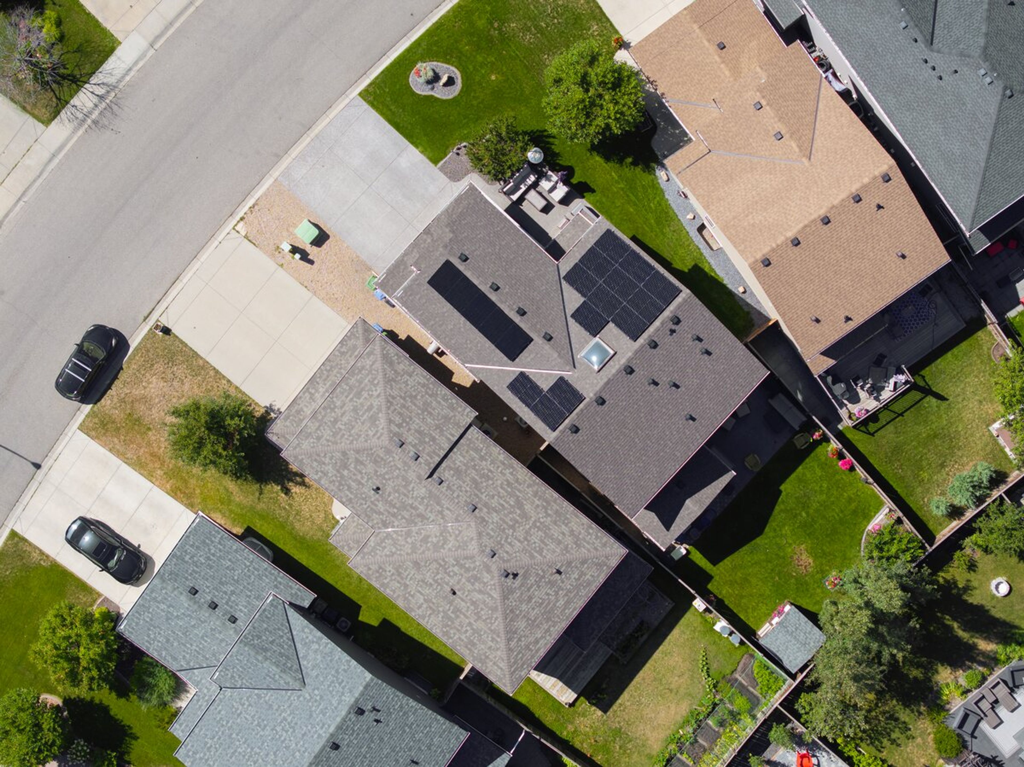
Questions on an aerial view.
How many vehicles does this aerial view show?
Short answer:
two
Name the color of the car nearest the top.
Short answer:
black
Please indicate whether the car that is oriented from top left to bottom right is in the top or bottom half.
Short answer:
bottom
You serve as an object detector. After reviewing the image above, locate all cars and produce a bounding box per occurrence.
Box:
[61,516,146,586]
[50,323,115,401]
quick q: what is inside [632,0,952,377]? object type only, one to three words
house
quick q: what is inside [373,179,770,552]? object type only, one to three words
house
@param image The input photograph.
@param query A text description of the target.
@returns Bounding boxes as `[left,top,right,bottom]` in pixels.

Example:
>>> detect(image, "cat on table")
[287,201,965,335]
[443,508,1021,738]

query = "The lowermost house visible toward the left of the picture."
[115,510,525,767]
